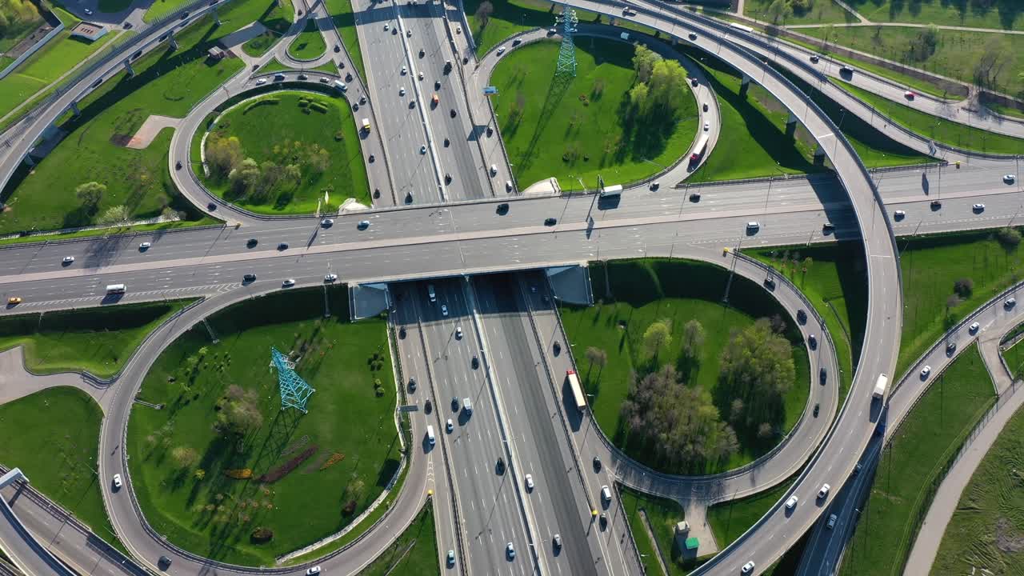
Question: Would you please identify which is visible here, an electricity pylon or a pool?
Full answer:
I can see an electricity pylon in this picture.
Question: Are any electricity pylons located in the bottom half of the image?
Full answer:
Yes, an electricity pylon appears in the bottom half of the image.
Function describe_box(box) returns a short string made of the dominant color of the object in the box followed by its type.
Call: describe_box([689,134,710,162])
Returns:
white truck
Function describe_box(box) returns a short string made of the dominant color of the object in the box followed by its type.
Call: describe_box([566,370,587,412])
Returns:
white truck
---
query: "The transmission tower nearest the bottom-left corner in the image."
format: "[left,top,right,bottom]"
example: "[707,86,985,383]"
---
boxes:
[269,345,317,416]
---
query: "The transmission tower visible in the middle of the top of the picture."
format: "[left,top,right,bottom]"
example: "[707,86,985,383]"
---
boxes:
[555,6,581,77]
